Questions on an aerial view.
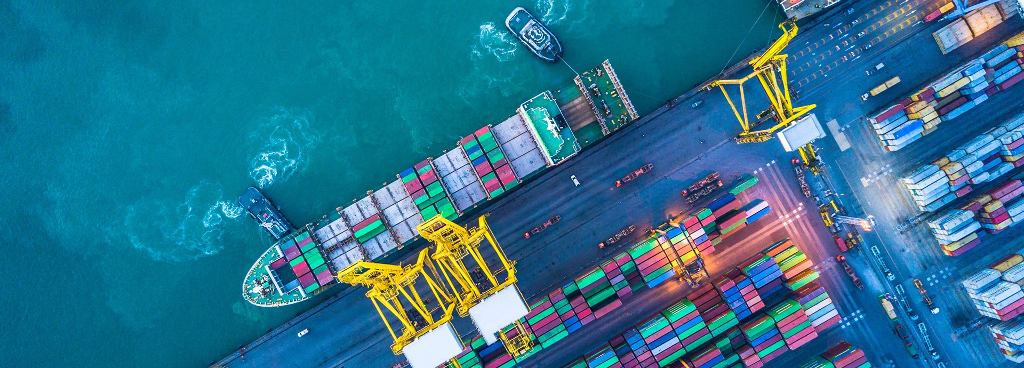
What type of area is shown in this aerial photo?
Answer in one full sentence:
The area seen from above is a port.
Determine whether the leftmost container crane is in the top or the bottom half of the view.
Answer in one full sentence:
Seen from above, the leftmost container crane lies in the bottom half of the view.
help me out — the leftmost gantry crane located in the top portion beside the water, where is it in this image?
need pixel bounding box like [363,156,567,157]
[705,5,828,172]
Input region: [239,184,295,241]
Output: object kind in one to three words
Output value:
boat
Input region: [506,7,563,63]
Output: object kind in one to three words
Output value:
boat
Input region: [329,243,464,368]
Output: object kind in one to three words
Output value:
container crane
